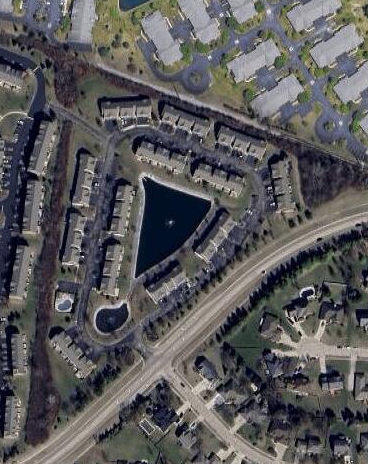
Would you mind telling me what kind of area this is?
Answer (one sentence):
The area seen from above is a residential area.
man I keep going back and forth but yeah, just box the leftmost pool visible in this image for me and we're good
[57,295,73,311]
